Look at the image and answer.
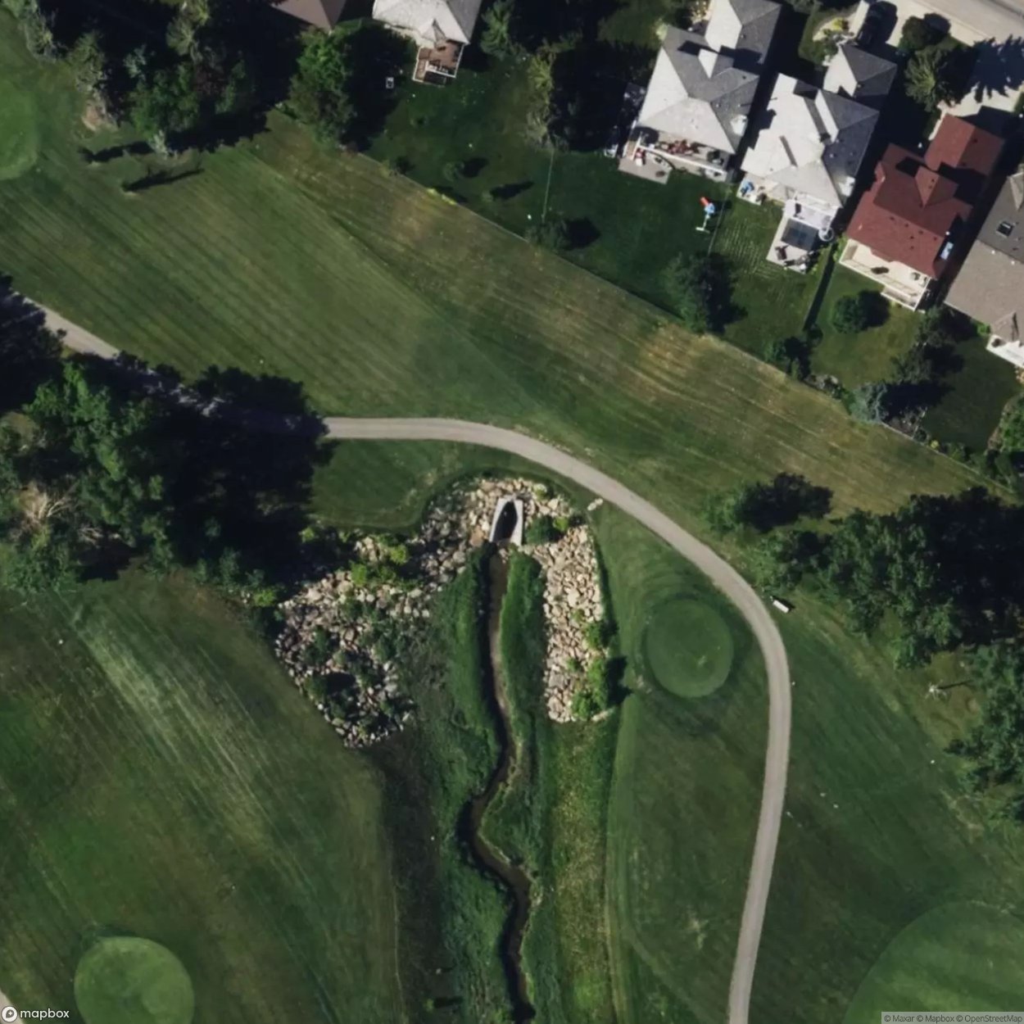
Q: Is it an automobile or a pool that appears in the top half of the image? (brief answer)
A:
automobile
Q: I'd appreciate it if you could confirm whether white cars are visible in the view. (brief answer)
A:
No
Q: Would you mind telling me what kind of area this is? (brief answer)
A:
golf course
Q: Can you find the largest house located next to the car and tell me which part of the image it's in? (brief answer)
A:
top right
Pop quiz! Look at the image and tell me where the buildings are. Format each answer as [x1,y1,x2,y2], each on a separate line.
[372,0,480,82]
[268,0,343,29]
[840,112,1005,311]
[741,42,898,232]
[946,167,1024,367]
[624,0,782,173]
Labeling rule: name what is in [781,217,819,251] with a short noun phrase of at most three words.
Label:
gazebo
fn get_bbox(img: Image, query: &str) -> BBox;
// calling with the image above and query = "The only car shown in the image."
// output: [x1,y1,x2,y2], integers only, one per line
[858,1,884,42]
